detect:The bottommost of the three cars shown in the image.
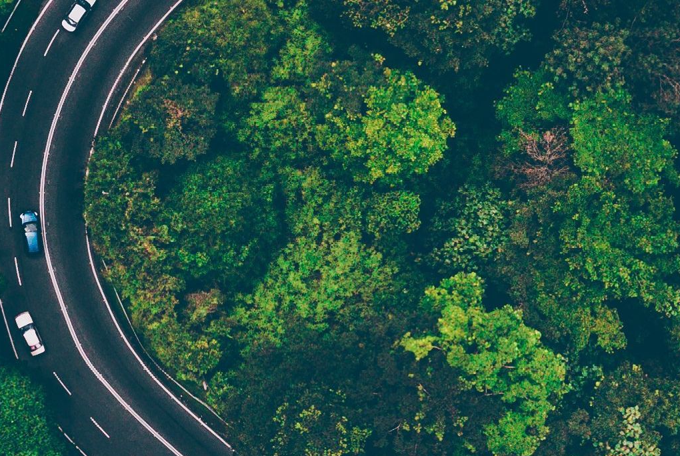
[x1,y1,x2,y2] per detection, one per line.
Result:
[15,312,46,356]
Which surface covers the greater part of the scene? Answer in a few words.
trees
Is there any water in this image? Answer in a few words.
No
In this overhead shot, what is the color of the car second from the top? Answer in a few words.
blue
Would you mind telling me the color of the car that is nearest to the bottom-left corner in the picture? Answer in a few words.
white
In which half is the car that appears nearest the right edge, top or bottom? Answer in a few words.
top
